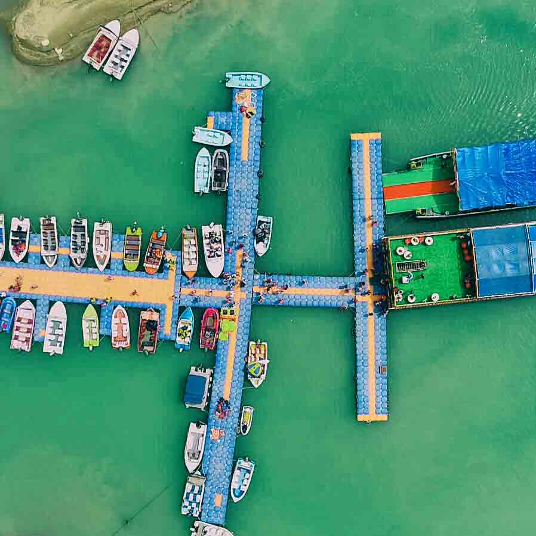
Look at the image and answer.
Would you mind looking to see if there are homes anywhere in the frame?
No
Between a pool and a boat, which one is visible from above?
boat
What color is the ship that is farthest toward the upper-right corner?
blue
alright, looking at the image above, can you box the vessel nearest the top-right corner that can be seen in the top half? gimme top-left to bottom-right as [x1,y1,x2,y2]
[382,135,536,217]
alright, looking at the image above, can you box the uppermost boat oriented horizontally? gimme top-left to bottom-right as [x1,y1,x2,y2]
[222,72,271,88]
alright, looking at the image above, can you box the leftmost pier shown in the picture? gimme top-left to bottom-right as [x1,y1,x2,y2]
[0,233,181,342]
